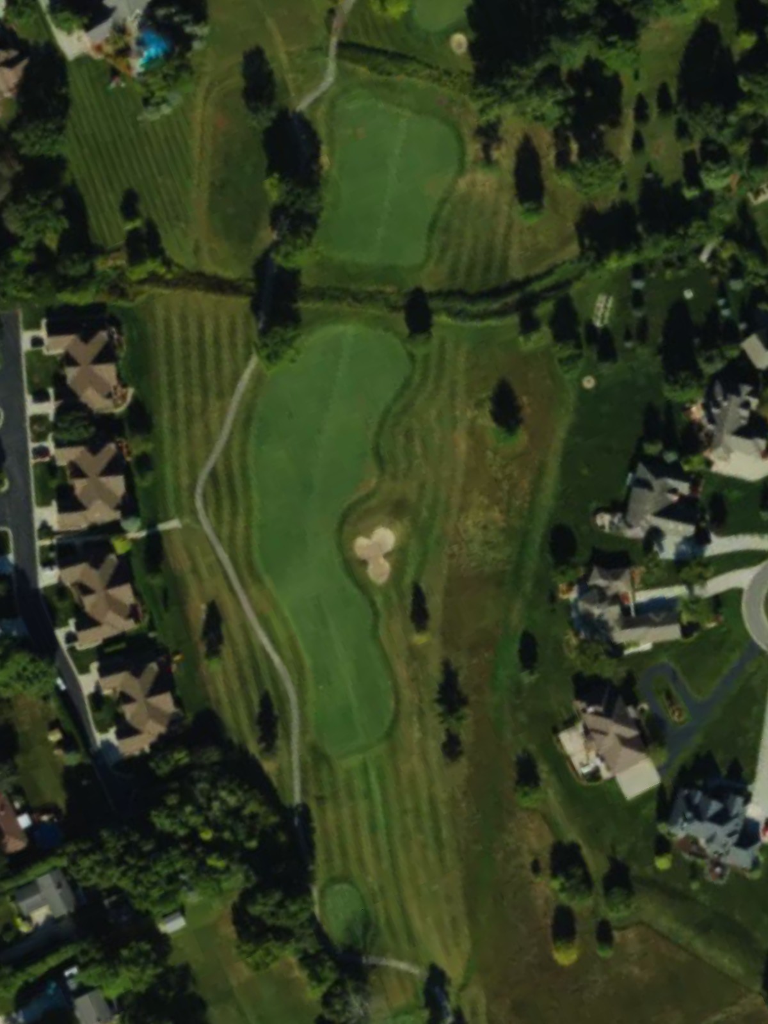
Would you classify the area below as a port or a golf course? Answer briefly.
golf course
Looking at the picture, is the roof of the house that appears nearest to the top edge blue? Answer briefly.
No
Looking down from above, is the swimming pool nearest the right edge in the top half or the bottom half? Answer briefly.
top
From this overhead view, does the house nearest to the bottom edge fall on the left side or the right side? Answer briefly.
left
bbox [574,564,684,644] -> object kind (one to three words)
house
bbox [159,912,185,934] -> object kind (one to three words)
shed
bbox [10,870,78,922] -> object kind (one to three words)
house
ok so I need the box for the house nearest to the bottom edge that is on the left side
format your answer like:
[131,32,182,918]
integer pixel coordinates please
[72,987,113,1024]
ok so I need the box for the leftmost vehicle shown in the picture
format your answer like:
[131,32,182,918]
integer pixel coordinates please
[53,676,66,692]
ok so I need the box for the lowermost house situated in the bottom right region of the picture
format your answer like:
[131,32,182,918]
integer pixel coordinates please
[668,786,764,863]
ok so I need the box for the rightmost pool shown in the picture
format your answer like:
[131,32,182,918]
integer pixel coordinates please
[138,30,171,68]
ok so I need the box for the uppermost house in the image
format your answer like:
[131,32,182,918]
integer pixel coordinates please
[82,0,159,45]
